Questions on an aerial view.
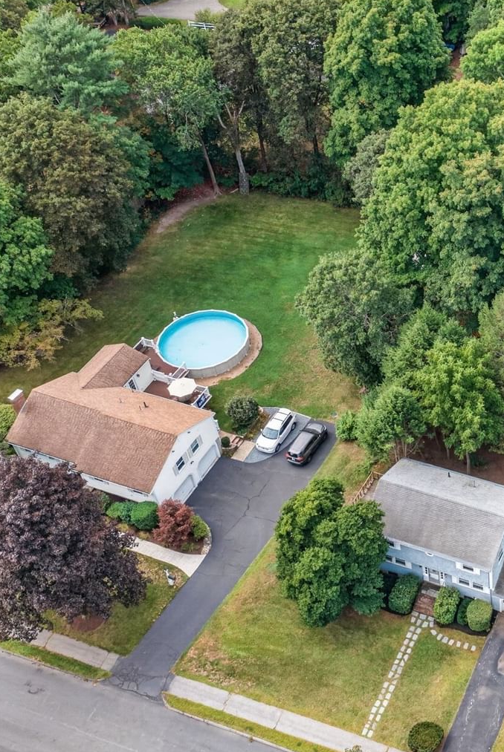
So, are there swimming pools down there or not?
Yes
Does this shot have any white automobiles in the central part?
Yes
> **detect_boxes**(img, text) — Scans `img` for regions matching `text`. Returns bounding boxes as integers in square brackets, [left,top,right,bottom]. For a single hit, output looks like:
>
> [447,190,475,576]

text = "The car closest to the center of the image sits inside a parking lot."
[257,412,296,454]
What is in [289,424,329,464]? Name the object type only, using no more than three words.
car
